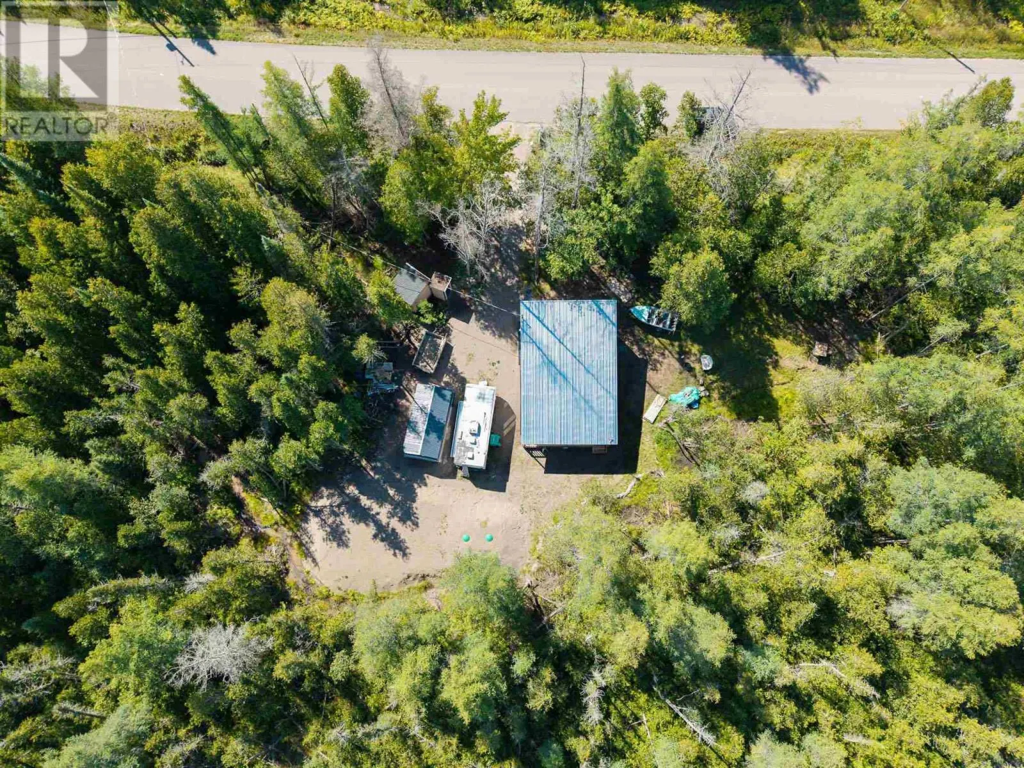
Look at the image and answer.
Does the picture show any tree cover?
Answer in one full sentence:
Yes, some tree cover is visible.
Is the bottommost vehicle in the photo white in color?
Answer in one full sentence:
Yes, the bottommost vehicle is indeed white.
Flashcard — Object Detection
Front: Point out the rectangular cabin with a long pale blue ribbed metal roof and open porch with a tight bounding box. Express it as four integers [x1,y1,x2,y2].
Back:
[520,298,618,461]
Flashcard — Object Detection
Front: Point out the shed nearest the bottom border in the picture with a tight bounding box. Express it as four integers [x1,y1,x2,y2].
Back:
[404,385,455,462]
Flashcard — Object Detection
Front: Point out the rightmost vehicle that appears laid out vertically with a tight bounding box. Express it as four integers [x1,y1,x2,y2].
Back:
[450,382,498,482]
